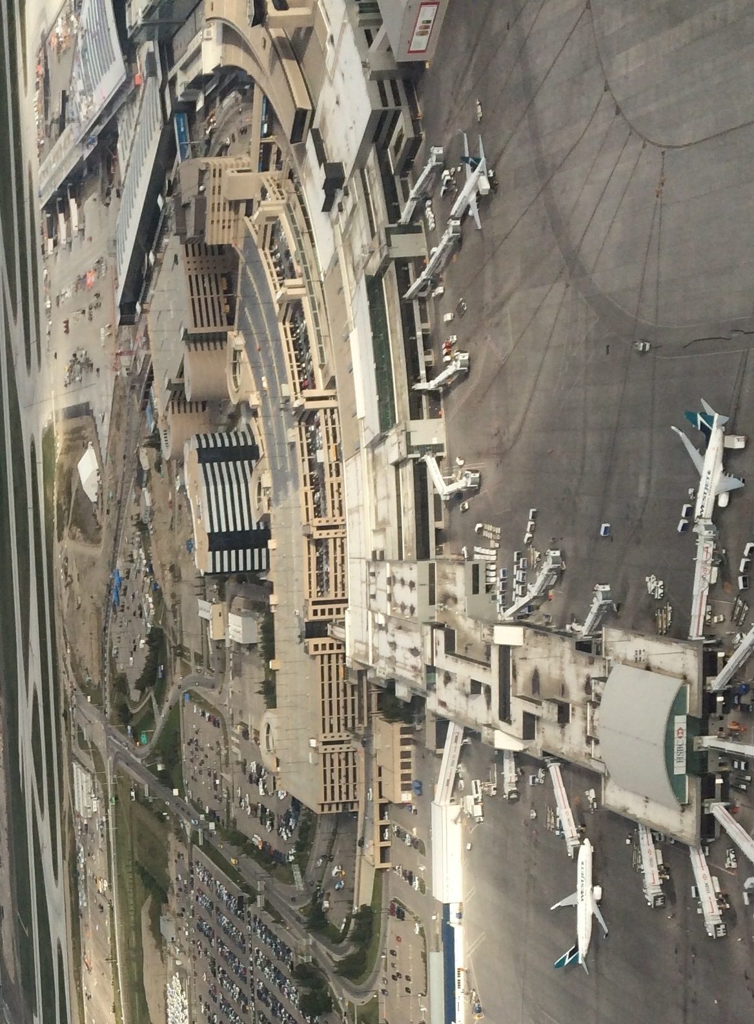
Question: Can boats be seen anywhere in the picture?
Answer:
No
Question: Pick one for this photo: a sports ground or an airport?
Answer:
airport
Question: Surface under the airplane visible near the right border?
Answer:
apron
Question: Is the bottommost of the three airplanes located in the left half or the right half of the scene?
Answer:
right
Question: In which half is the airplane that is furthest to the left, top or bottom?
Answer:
top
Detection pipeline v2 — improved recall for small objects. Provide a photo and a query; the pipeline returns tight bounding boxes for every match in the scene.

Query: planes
[546,841,603,967]
[453,127,485,231]
[674,388,744,528]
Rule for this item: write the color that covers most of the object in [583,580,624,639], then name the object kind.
gray jet bridge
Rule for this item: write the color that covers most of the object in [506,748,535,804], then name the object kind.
gray jet bridge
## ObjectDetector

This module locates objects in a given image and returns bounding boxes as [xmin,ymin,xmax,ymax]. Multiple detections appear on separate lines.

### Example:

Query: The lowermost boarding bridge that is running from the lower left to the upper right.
[712,632,754,695]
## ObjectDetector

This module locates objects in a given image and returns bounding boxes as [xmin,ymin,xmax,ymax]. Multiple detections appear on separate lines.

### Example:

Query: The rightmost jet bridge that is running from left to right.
[697,735,754,757]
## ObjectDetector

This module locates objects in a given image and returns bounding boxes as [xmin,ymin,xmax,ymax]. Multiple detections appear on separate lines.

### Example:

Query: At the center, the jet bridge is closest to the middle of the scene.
[424,451,488,496]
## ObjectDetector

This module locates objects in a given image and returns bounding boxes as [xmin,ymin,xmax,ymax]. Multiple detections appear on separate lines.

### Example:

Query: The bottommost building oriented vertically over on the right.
[428,902,480,1024]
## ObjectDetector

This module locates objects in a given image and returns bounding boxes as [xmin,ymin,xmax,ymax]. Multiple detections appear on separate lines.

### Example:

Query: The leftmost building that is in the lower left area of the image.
[73,764,99,817]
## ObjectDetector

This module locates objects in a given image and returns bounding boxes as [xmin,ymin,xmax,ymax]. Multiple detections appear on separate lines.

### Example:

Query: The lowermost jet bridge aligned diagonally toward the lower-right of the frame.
[710,801,754,865]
